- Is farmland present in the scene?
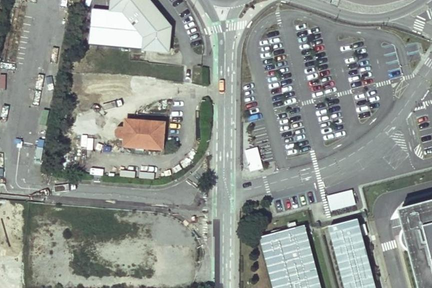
No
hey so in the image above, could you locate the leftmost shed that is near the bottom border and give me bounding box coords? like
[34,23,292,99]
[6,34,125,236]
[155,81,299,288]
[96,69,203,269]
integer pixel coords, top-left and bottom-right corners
[260,226,320,288]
